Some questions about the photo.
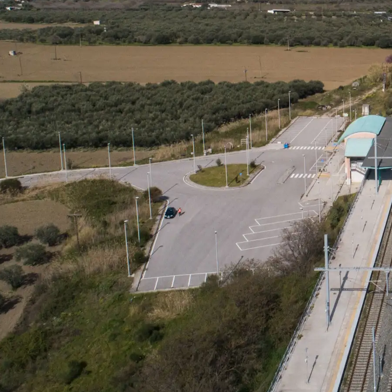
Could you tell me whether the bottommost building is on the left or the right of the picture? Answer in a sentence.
It is on the right.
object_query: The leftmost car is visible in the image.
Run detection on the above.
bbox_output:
[163,208,176,220]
